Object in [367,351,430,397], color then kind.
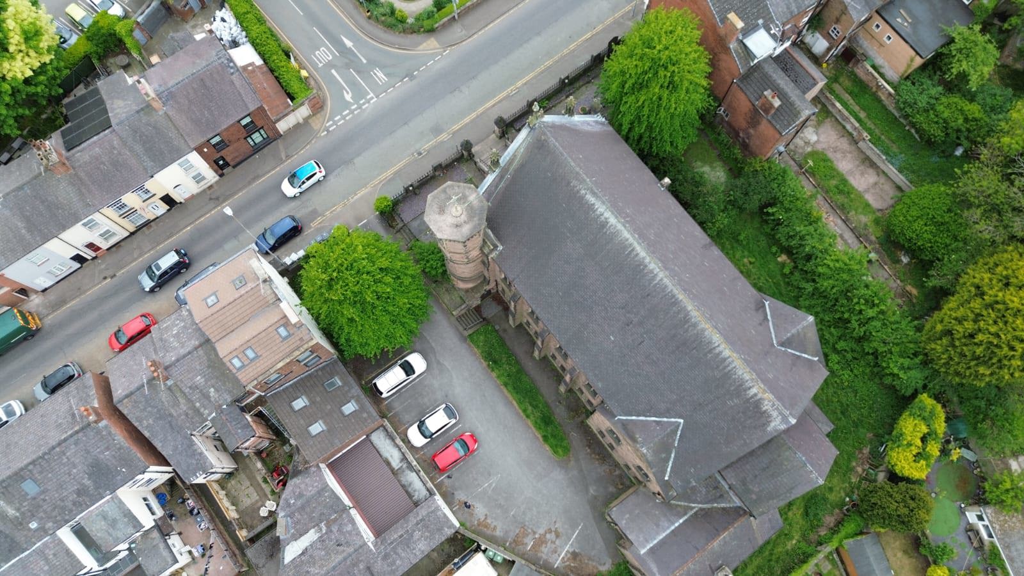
white car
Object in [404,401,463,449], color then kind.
white car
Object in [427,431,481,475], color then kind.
red car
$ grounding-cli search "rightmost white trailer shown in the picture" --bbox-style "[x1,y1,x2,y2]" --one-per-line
[456,551,498,576]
